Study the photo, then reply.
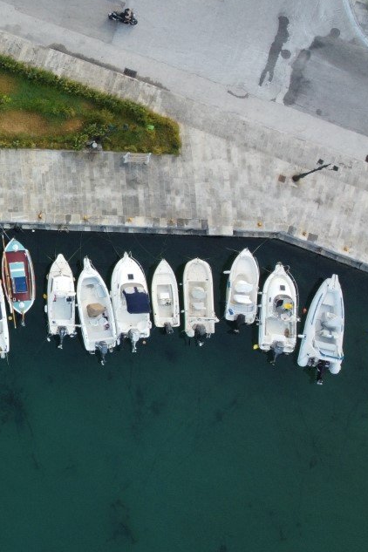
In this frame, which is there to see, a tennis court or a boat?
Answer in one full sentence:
Visible in the photo is a boat.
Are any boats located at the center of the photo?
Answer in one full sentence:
Yes, a boat shows up at the center of the photo.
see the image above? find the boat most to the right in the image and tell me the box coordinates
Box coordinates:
[297,277,346,378]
